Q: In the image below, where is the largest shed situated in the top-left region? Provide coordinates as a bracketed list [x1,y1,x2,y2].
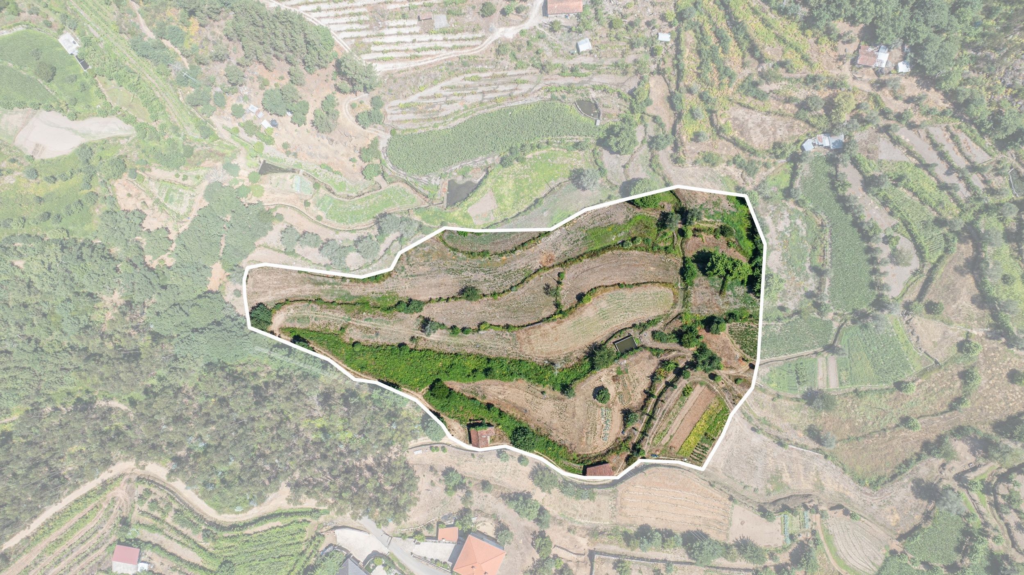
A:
[59,33,84,57]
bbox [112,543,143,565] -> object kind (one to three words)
shed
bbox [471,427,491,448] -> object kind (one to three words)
house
